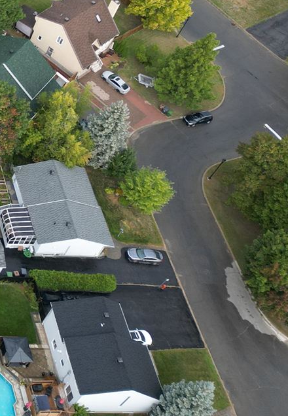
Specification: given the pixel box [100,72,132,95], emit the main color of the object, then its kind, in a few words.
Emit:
white car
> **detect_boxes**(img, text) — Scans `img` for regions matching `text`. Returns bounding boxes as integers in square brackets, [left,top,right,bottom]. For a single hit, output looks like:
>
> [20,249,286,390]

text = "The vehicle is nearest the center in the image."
[124,247,165,265]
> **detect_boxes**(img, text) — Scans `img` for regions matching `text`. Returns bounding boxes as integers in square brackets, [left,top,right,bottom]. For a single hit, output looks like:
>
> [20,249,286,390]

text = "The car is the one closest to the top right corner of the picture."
[182,109,217,128]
